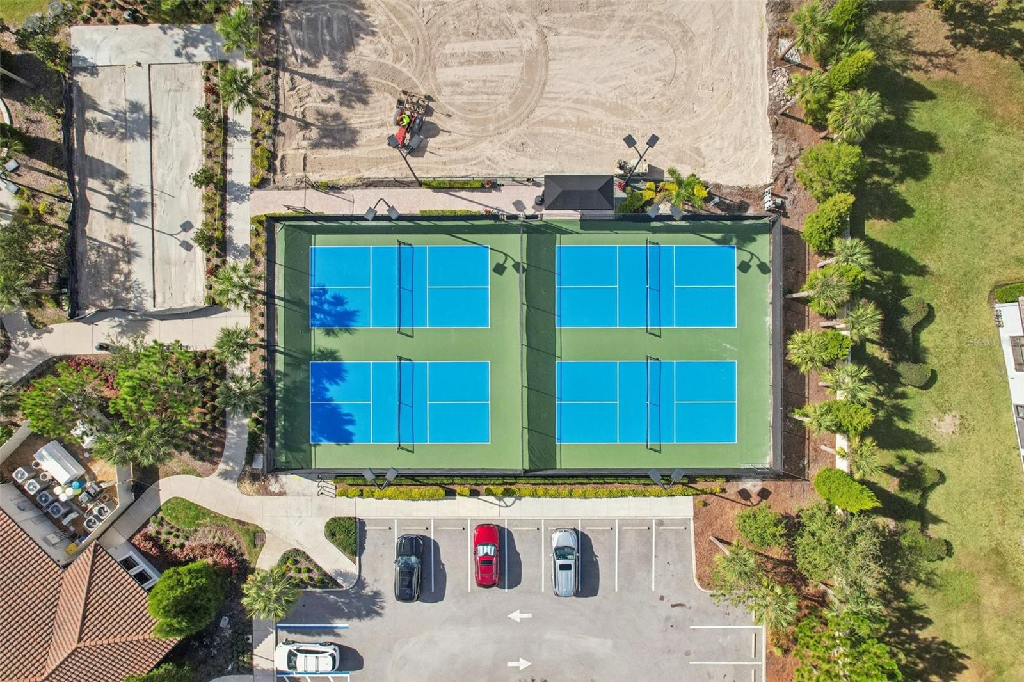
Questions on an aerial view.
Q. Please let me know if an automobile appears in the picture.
Yes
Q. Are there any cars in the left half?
Yes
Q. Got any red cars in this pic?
Yes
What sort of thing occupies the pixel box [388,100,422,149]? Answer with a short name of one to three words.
work vehicle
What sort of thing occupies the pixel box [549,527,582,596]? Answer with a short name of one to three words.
car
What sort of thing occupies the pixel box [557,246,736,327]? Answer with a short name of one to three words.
sports court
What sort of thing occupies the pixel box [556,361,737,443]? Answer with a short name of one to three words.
sports court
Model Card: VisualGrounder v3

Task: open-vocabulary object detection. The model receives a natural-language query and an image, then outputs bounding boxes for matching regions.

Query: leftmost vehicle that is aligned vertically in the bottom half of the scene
[392,532,425,603]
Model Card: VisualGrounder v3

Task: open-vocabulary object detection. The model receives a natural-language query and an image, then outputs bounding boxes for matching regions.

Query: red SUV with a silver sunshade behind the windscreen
[471,522,503,587]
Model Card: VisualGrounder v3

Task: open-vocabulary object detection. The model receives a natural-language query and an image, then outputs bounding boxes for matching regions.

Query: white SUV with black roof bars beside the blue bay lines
[275,640,340,676]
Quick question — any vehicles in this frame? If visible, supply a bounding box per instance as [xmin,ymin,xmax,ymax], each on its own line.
[275,640,340,676]
[393,84,431,111]
[388,100,422,149]
[549,527,582,596]
[471,522,503,587]
[392,532,425,603]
